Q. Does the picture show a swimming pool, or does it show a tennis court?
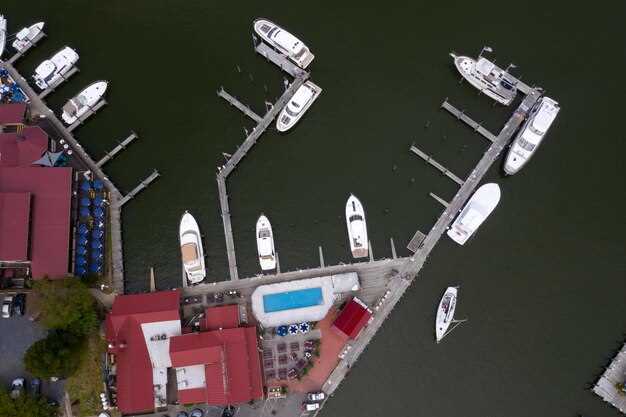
swimming pool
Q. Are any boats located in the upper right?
Yes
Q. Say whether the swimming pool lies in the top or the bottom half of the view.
bottom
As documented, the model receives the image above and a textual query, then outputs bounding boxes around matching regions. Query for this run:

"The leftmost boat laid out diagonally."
[5,22,50,52]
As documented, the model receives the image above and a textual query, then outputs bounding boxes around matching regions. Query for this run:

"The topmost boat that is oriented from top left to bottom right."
[254,21,315,68]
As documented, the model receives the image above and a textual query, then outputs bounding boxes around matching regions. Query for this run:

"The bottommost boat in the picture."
[436,287,464,342]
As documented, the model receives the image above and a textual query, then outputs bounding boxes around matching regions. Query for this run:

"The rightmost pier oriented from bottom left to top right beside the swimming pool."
[321,64,545,397]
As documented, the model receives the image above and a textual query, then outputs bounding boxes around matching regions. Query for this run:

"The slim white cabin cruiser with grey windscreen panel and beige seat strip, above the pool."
[256,215,277,275]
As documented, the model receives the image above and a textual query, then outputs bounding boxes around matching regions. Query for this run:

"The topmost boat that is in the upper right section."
[450,54,518,105]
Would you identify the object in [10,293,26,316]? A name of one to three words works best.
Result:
car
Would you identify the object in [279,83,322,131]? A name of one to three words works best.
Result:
boat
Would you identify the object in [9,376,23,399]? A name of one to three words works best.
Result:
car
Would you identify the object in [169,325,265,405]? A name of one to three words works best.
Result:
building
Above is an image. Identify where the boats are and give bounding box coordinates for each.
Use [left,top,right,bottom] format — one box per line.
[0,13,7,59]
[450,54,518,105]
[5,22,50,52]
[504,94,564,176]
[256,215,277,275]
[59,83,106,128]
[30,46,76,89]
[254,21,315,68]
[436,287,464,342]
[345,194,369,259]
[279,83,322,131]
[180,209,207,285]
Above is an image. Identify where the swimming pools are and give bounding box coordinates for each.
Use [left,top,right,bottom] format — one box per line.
[252,276,334,325]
